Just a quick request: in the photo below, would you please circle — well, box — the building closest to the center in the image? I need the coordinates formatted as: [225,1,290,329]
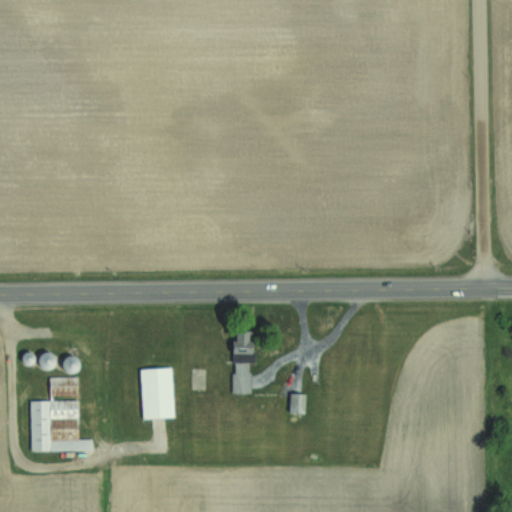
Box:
[232,332,255,394]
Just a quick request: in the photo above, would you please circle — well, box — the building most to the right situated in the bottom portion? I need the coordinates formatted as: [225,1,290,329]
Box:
[290,394,306,415]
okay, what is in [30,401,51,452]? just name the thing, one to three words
shed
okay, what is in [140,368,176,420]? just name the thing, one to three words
barn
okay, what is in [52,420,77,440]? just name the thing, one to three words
shed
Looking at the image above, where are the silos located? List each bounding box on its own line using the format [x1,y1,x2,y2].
[39,353,58,371]
[22,352,36,367]
[62,356,82,375]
